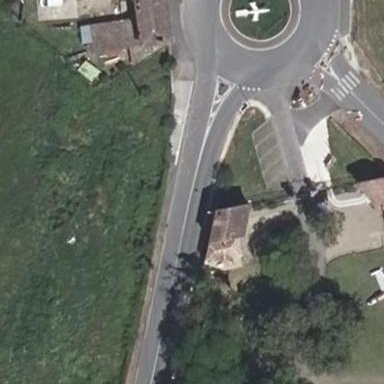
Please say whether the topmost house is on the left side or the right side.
left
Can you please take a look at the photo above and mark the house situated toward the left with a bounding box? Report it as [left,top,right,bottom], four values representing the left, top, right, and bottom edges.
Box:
[78,0,172,65]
